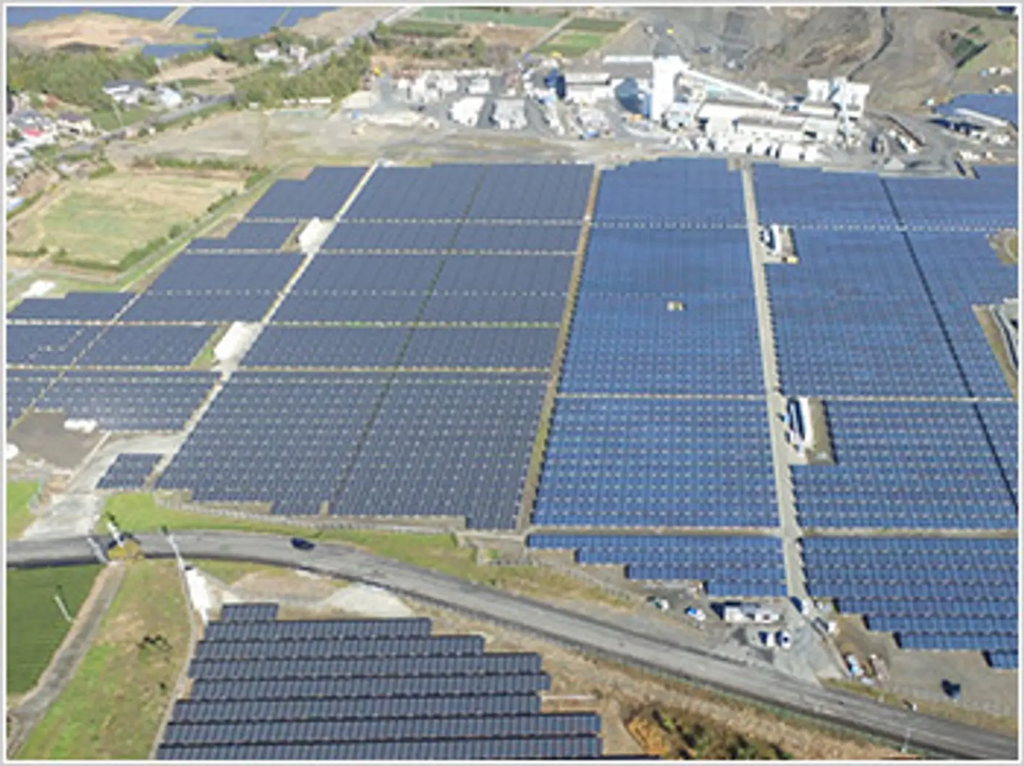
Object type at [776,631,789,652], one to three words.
vehicle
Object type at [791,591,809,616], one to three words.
vehicle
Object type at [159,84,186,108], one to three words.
house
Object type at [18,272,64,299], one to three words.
shed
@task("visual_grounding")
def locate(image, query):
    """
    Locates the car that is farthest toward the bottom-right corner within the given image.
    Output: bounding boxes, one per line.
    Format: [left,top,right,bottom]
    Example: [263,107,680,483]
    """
[941,679,965,702]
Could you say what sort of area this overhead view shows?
solar farm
